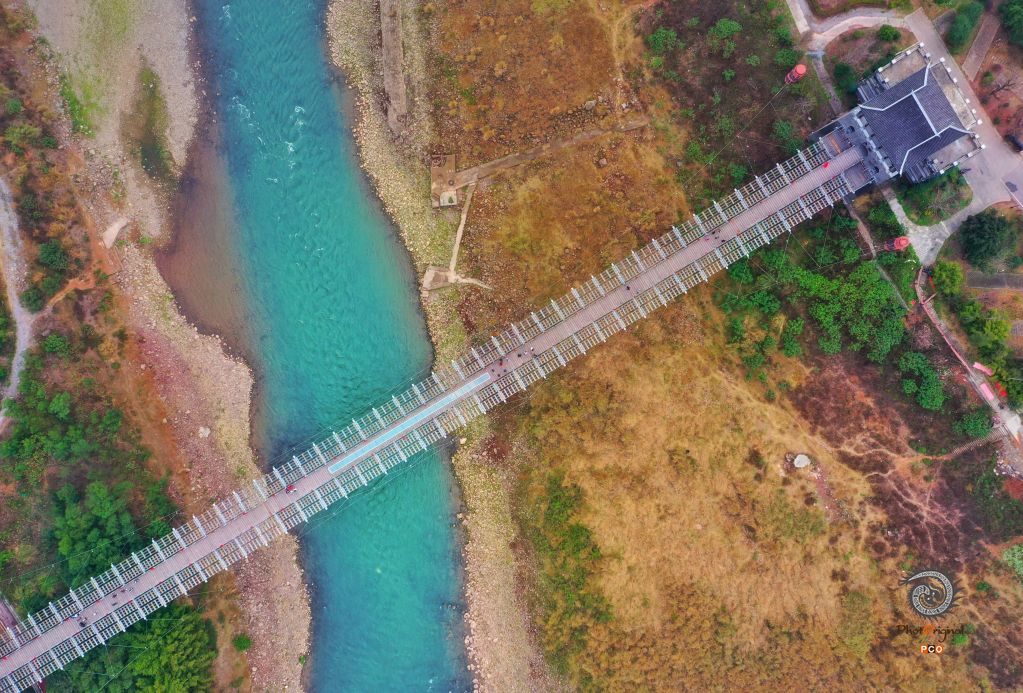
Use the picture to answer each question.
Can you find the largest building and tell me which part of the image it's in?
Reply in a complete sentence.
The largest building is located in the top right region of the scene.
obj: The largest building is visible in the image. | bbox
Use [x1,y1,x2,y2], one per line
[838,42,985,188]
